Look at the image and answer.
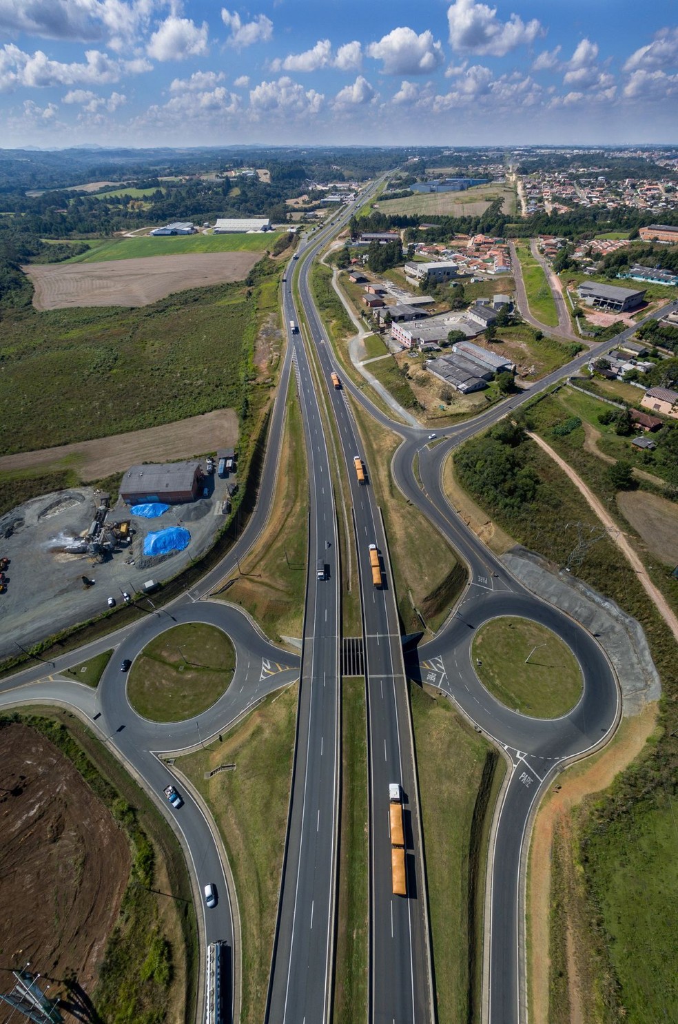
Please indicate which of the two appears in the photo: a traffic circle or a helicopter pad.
traffic circle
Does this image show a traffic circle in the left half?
Yes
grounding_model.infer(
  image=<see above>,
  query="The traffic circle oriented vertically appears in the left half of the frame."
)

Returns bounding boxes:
[0,335,302,1024]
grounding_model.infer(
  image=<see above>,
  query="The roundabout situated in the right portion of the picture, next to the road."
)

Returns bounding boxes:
[327,297,678,1024]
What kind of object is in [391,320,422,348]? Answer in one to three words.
building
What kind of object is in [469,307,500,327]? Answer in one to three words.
building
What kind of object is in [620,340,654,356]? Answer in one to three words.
house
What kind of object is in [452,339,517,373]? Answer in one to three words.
shed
